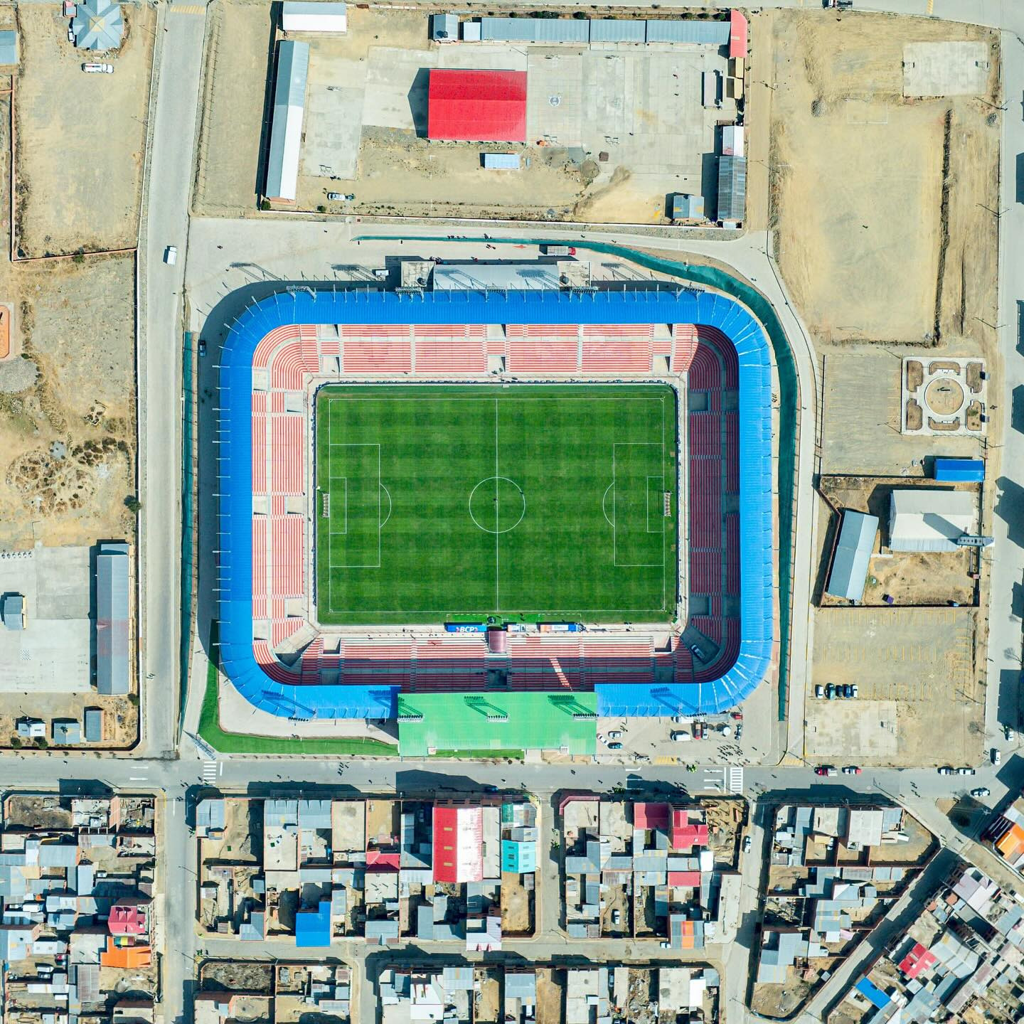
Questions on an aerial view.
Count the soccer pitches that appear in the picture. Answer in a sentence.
Looking from above, you can make out 2 soccer pitches.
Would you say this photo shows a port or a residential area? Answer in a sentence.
What you see here is a residential area.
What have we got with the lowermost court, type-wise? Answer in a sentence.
Looking closely, the lowermost court is a basketball court.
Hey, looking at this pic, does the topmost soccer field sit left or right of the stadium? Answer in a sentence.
Relative to the stadium, the topmost soccer field is on the right.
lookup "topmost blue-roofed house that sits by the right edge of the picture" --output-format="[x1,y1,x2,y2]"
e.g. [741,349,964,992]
[929,459,986,482]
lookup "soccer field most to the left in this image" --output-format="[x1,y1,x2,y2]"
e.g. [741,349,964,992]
[317,384,677,625]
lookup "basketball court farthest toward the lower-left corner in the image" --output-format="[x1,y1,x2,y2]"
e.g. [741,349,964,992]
[0,547,90,692]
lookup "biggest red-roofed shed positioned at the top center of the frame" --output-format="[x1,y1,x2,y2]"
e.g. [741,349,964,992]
[428,70,526,149]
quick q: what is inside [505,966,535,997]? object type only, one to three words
house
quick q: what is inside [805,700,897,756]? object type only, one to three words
basketball court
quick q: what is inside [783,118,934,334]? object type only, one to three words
soccer field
